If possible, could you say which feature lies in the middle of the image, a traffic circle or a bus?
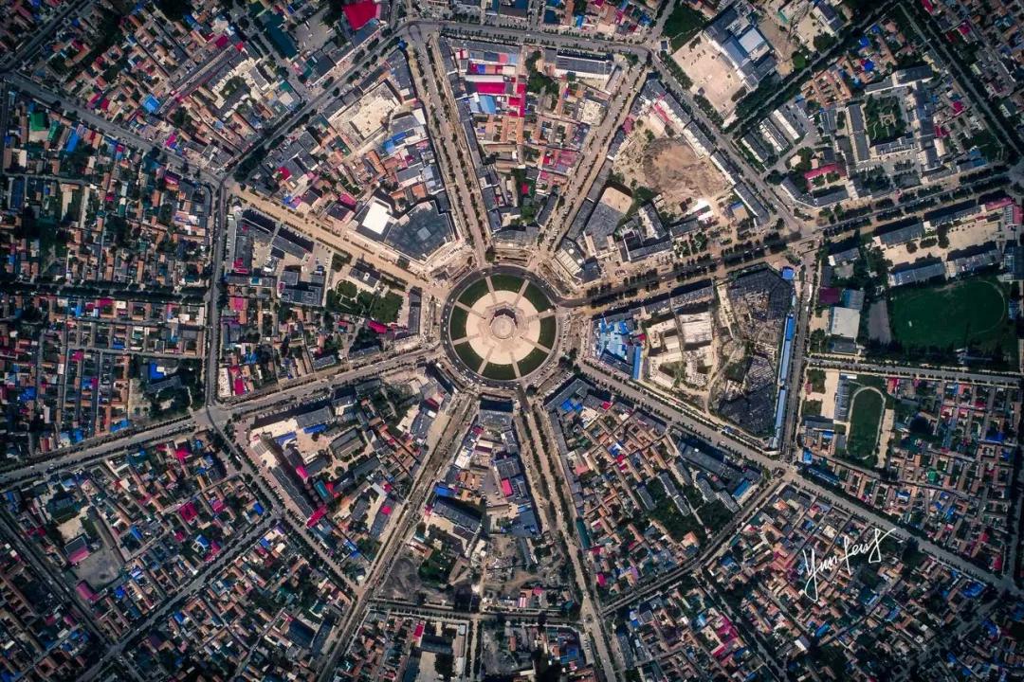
traffic circle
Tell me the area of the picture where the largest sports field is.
right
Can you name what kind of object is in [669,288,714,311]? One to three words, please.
building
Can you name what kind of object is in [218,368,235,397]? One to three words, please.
shed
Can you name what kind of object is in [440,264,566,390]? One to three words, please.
roundabout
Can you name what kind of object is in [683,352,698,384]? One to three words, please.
building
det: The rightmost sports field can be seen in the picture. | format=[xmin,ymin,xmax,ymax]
[891,276,1012,355]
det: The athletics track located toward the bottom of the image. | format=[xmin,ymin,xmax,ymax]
[839,374,888,468]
